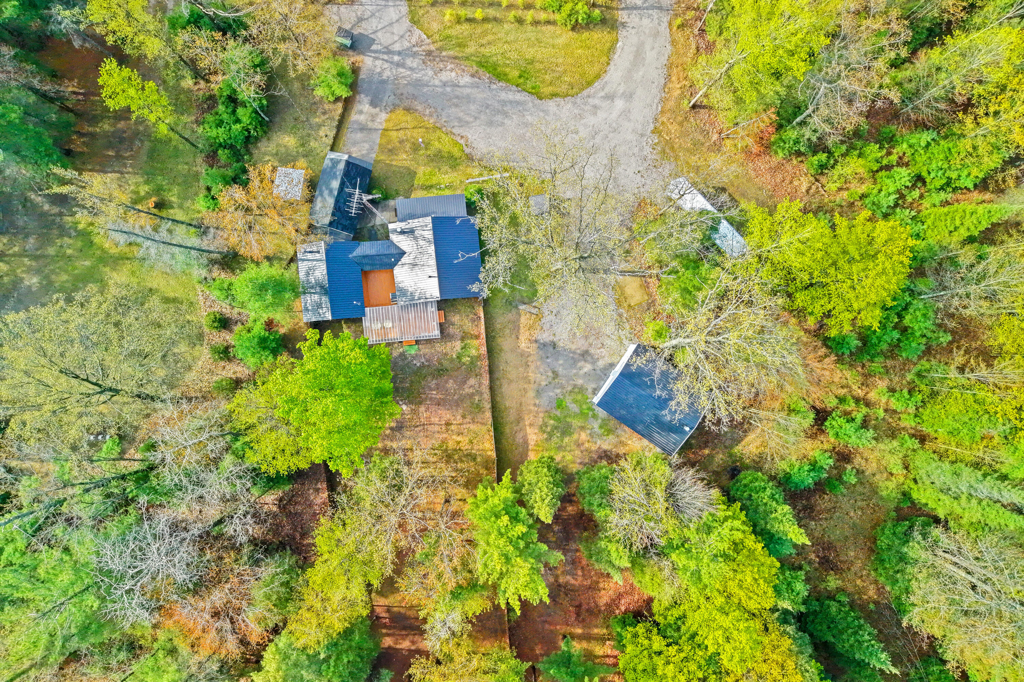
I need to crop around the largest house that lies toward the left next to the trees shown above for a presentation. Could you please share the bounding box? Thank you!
[296,193,483,323]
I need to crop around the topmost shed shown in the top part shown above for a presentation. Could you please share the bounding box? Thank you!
[333,20,357,49]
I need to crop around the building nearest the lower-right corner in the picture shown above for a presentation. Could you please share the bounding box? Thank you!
[593,342,714,457]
